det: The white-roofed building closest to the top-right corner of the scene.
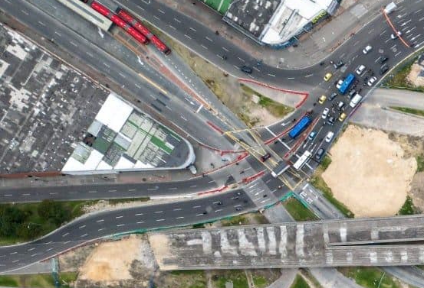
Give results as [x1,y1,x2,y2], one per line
[261,0,357,53]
